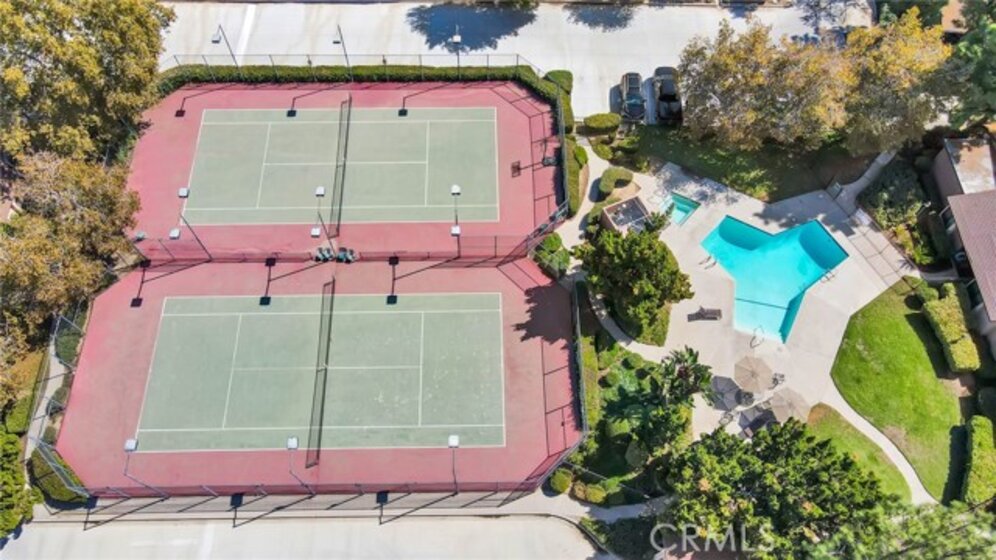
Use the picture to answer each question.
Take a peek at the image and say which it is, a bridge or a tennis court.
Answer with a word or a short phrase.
tennis court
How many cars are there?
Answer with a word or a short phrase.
two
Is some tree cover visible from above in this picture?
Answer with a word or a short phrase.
Yes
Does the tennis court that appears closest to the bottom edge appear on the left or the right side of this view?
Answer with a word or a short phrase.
left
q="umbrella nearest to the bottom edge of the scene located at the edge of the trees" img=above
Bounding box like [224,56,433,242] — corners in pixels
[767,384,811,427]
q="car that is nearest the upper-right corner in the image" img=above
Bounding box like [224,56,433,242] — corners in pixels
[656,68,689,124]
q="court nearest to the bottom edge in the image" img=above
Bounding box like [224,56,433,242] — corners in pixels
[56,256,581,497]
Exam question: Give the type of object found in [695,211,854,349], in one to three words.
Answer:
swimming pool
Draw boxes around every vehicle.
[619,71,649,122]
[656,68,689,124]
